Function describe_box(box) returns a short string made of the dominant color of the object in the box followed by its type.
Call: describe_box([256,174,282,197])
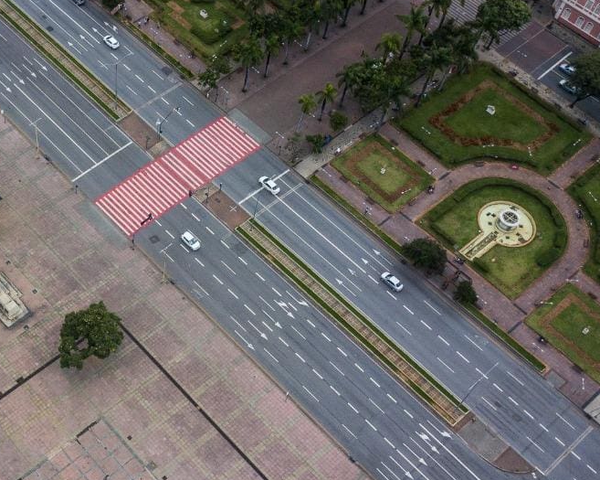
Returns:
white car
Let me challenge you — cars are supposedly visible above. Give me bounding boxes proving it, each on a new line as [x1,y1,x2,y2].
[256,174,282,197]
[101,33,122,50]
[557,77,584,95]
[74,0,88,6]
[178,229,202,251]
[377,267,407,294]
[554,59,579,77]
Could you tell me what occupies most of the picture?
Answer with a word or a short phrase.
paved ground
